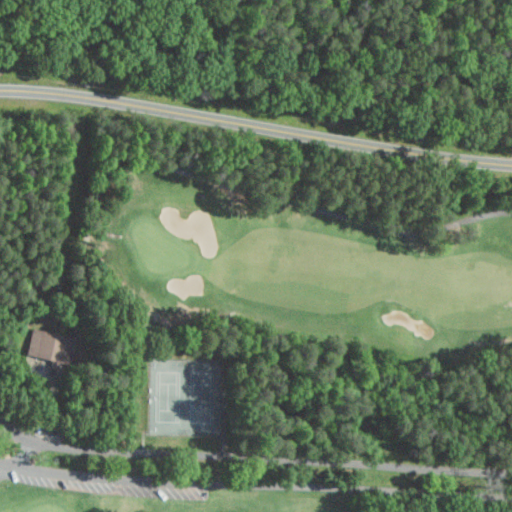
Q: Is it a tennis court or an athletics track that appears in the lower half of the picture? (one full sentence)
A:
Looking in the lower half of the picture, you will find a tennis court.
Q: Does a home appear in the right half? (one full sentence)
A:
No, I see no home in the right half.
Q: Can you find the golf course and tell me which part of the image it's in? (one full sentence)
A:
You can find the golf course in the center area of the picture.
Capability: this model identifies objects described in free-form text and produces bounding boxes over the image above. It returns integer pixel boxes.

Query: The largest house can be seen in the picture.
[27,330,64,362]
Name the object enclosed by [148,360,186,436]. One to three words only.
tennis court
